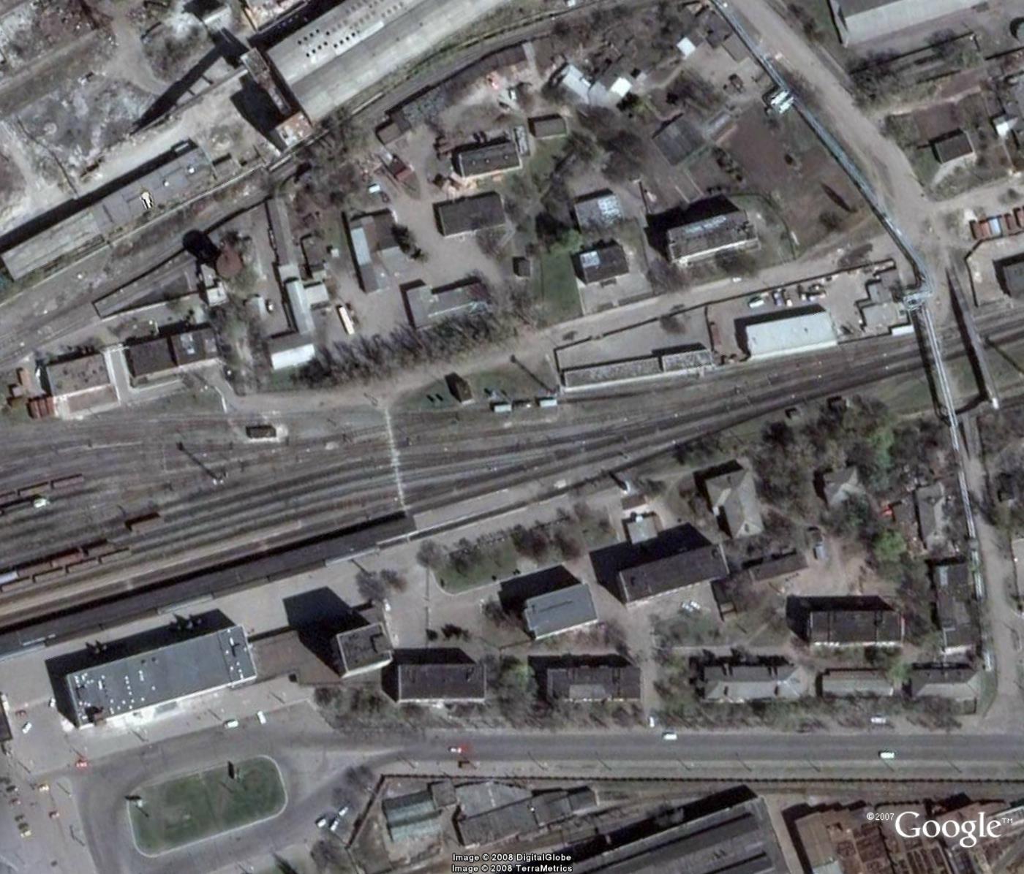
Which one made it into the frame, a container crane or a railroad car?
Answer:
railroad car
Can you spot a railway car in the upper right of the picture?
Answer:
No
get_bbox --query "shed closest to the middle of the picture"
[454,374,473,403]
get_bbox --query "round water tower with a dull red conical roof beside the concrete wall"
[214,252,242,280]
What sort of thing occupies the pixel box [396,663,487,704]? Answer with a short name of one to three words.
building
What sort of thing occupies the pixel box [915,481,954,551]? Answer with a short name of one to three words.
house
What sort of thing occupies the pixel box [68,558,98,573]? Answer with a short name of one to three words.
rail car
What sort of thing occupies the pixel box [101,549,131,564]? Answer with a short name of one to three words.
rail car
